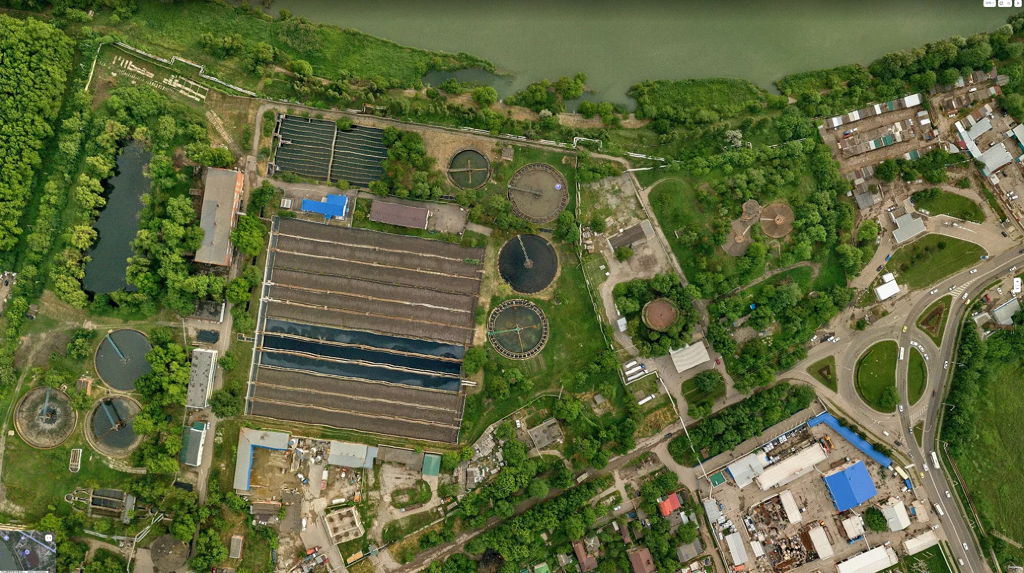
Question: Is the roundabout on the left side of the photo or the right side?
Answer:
right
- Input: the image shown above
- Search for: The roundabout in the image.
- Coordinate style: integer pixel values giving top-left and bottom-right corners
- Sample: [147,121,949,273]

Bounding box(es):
[807,296,952,447]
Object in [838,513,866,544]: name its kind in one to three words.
building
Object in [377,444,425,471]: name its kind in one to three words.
shed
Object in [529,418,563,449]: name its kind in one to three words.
house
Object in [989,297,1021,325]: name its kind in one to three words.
building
